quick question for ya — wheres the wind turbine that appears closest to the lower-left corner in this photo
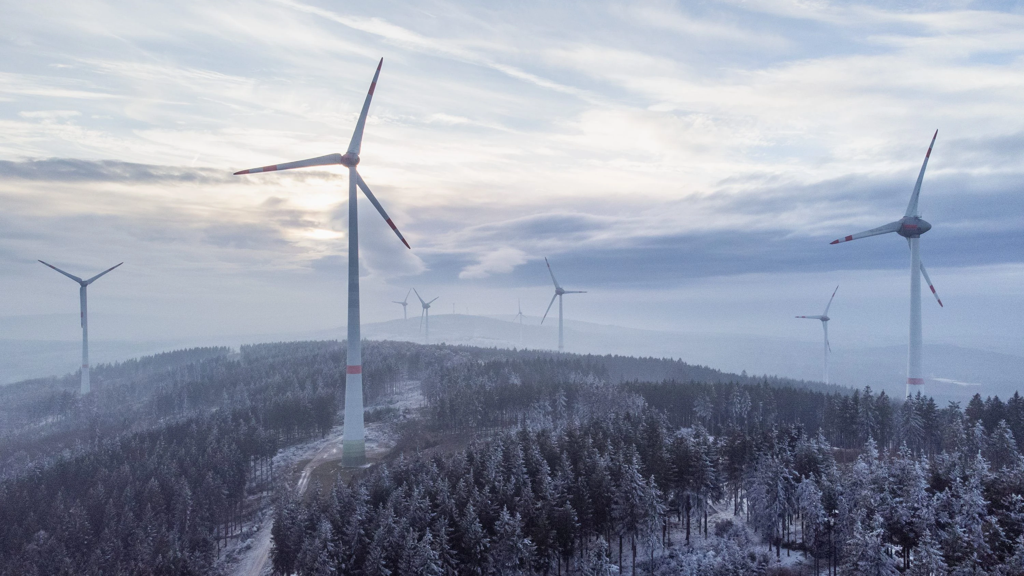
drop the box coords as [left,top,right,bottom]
[39,261,123,401]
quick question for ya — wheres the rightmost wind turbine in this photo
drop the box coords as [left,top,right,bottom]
[829,132,943,452]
